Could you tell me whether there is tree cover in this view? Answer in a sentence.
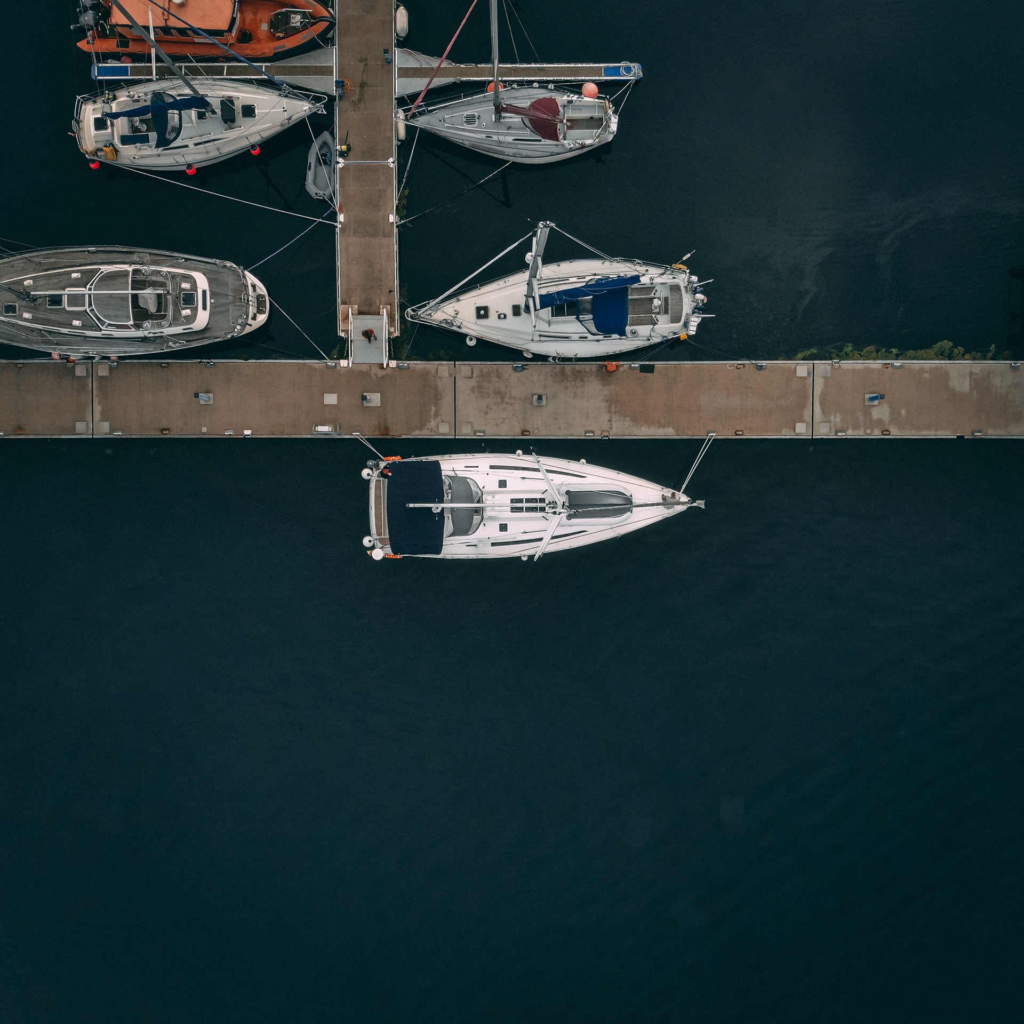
No, the scene doesn't show any tree cover.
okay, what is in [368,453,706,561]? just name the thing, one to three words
boat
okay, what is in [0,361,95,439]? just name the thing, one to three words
pier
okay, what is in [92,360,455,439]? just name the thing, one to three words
pier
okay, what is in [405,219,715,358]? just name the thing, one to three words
boat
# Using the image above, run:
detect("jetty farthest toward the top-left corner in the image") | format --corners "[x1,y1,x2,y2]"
[92,46,336,97]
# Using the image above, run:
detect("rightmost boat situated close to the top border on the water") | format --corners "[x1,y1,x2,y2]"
[393,0,618,161]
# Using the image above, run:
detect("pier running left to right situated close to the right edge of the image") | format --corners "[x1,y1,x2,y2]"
[811,360,1024,439]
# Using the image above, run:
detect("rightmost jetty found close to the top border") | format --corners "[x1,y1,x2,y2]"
[396,47,642,98]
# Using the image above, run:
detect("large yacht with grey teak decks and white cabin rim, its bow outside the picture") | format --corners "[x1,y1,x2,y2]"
[0,243,270,357]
